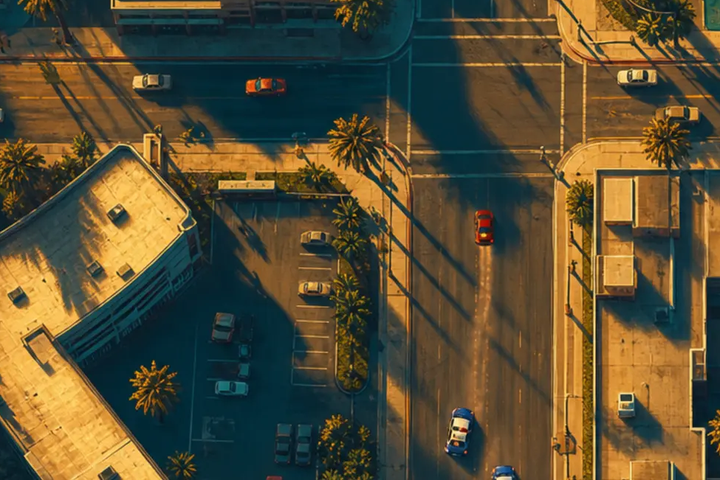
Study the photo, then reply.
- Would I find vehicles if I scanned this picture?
Yes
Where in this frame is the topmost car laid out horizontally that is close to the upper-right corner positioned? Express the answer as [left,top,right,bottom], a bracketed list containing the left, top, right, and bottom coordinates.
[617,69,657,87]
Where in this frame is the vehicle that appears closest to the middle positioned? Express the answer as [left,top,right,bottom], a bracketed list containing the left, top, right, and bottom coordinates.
[298,230,332,247]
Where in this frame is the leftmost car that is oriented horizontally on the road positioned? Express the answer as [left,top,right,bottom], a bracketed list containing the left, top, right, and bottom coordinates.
[132,74,173,91]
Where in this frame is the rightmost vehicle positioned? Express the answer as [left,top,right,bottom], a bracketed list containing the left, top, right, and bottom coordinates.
[655,105,701,123]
